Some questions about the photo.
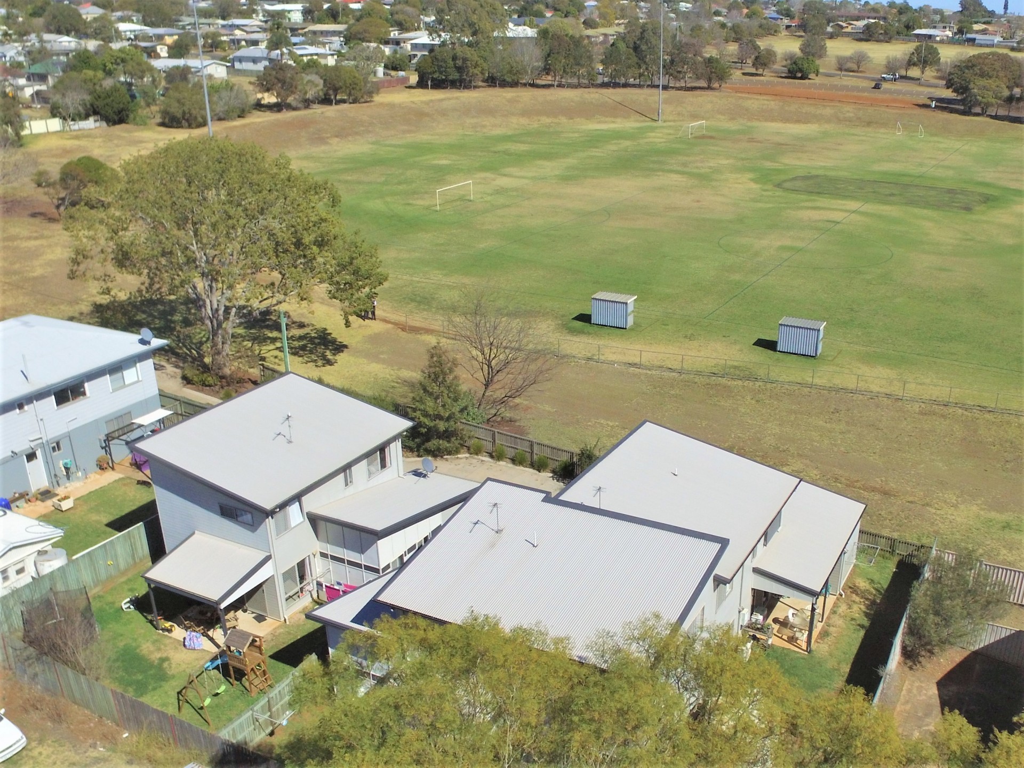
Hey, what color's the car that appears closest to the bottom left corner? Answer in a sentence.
The car that appears closest to the bottom left corner looks white in the image.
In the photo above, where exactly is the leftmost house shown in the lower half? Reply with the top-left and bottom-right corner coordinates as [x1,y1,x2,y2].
[0,515,56,602]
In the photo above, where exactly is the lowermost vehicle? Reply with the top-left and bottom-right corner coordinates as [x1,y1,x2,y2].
[0,705,37,763]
